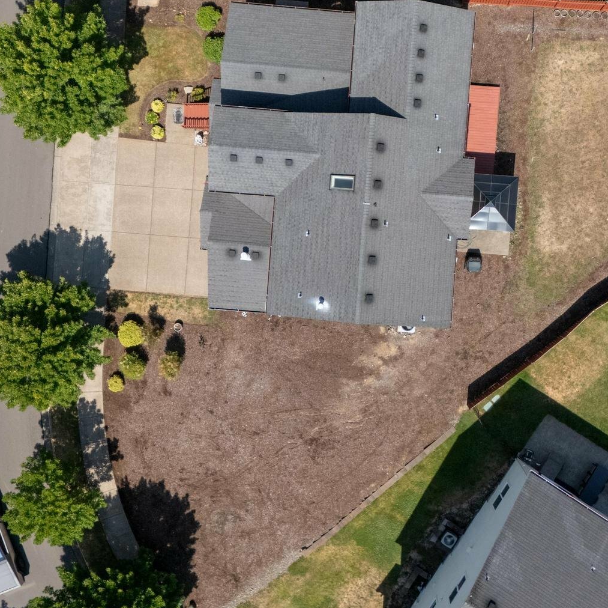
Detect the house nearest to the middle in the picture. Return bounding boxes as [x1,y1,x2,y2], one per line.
[199,1,480,330]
